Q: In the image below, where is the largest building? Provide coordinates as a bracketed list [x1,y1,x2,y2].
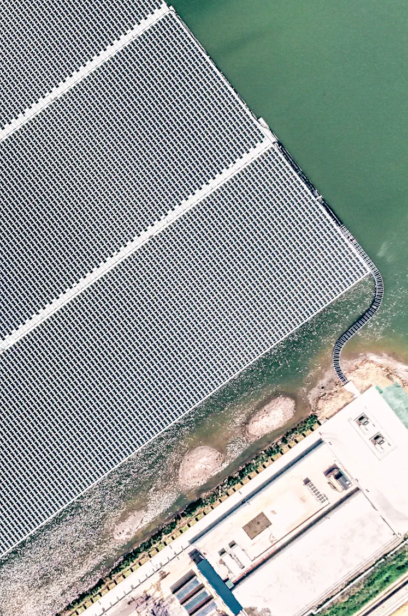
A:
[194,558,244,615]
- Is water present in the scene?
Yes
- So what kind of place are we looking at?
solar farm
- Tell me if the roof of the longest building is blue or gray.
blue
